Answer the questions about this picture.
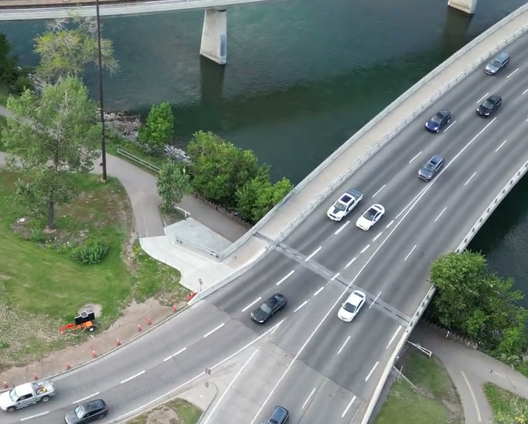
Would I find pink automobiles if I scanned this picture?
No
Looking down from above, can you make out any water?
Yes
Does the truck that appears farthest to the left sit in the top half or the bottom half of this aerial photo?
bottom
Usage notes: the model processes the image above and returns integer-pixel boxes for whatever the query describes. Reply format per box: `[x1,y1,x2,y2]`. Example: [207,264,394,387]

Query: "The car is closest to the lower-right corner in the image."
[336,291,367,325]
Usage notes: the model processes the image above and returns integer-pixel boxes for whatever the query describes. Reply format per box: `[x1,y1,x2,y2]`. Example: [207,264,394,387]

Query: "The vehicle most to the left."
[0,380,56,413]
